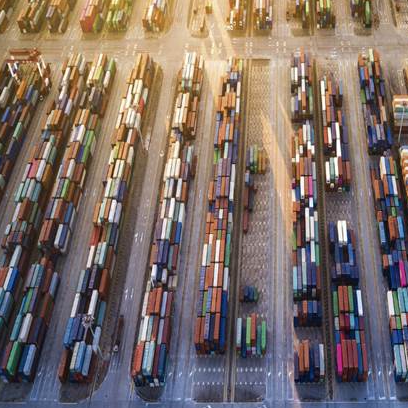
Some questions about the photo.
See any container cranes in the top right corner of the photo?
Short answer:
No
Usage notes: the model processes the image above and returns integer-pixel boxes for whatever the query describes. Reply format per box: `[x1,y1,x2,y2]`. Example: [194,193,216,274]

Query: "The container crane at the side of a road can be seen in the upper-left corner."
[3,50,53,94]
